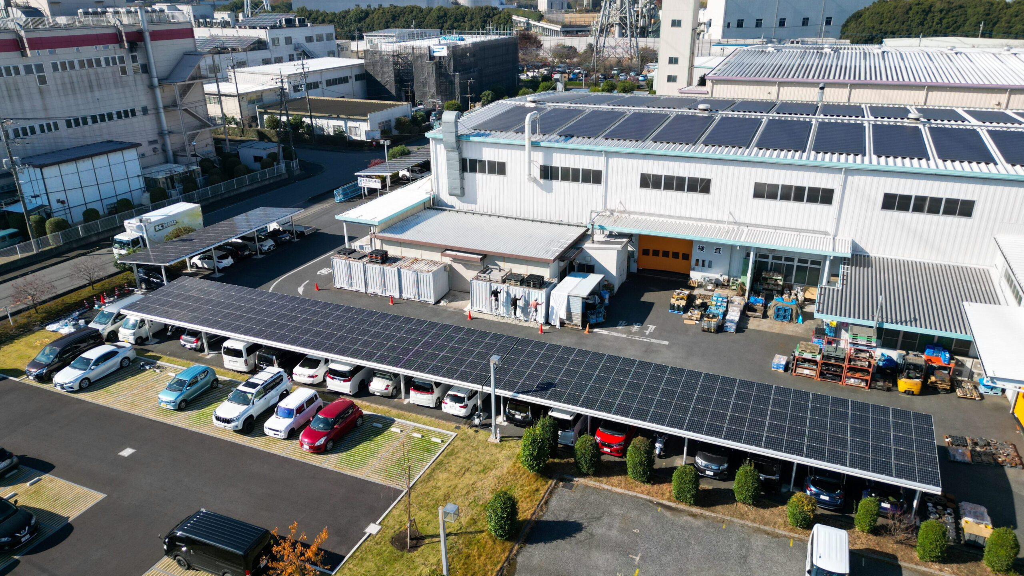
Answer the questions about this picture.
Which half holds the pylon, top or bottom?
top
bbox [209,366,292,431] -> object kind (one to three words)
car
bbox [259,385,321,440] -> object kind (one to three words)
car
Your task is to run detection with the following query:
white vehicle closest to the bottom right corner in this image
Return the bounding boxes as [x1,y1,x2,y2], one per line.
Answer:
[799,531,848,576]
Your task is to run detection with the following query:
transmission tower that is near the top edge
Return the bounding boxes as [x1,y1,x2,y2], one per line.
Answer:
[591,0,637,68]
